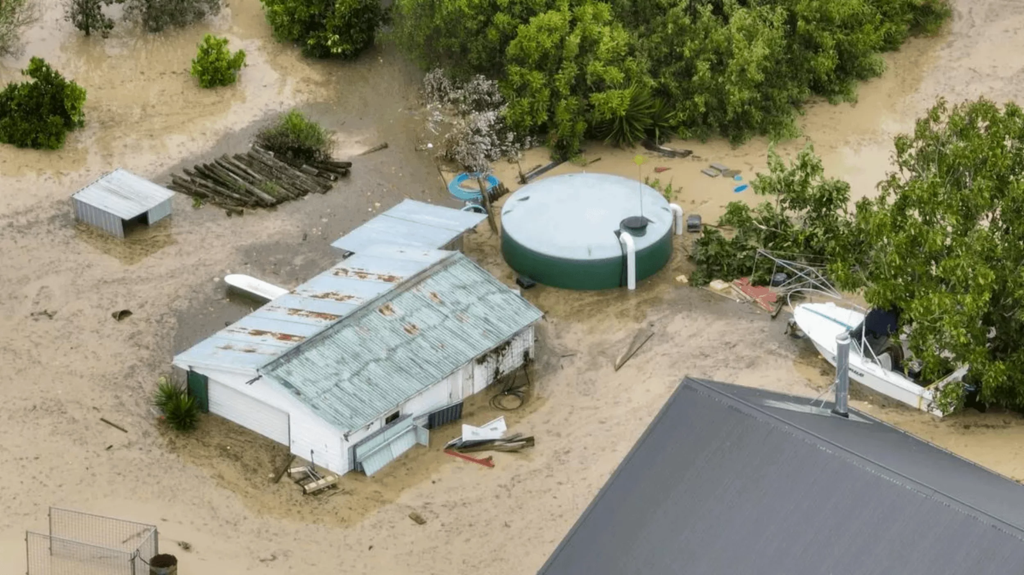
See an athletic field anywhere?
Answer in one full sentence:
No, no athletic field is visible in the view.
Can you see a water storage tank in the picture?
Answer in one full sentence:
Yes, the photo shows a water storage tank.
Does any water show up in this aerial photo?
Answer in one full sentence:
Yes, the picture does contain water.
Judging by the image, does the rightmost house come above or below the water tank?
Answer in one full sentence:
Looking at the scene, the rightmost house is located below the water tank.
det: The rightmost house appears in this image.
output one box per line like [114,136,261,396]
[543,326,1024,575]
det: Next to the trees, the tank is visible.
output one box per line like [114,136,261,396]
[500,156,682,290]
